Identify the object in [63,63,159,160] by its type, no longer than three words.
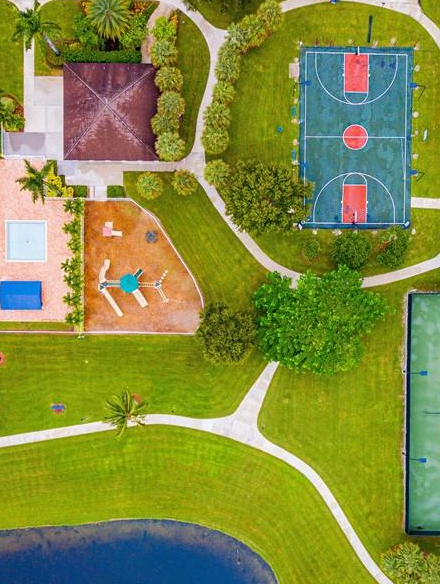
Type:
building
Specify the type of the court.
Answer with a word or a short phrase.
basketball court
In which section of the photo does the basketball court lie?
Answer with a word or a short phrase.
top right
